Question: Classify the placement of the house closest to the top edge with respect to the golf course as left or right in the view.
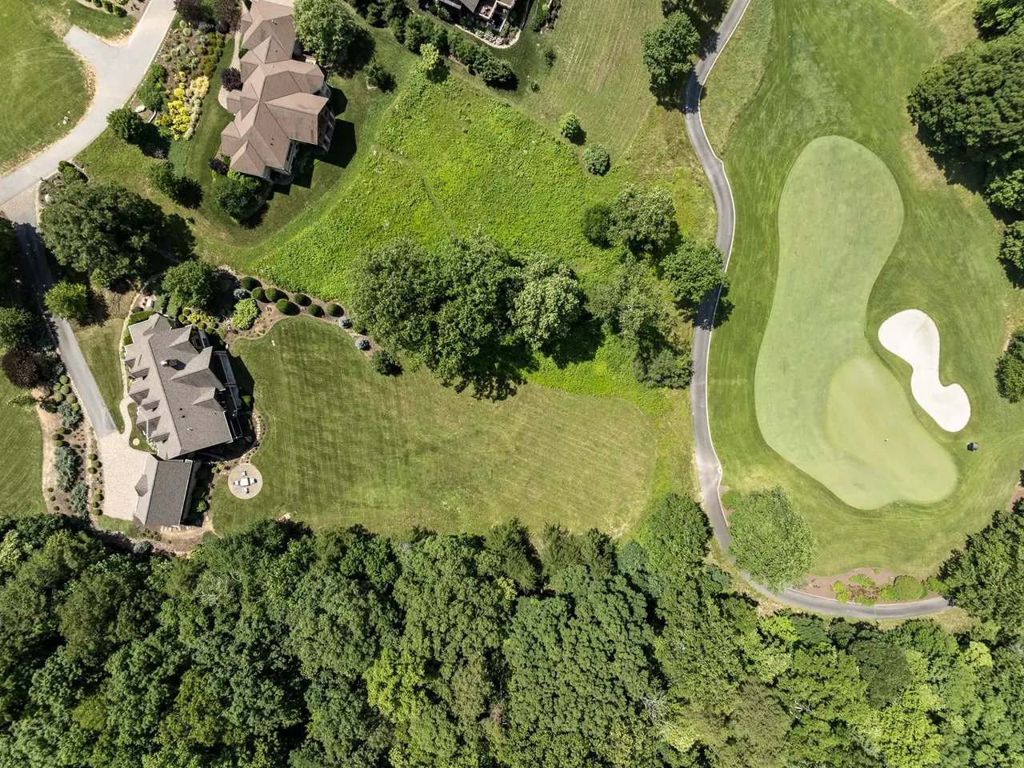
on its left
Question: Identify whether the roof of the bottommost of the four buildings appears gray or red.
gray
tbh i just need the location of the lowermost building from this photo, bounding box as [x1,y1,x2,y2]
[133,454,197,528]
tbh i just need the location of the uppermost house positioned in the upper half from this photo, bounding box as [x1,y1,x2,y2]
[439,0,516,32]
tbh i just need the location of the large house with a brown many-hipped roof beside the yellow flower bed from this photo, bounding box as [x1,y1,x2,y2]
[221,0,334,187]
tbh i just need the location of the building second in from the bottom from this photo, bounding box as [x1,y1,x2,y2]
[124,314,245,459]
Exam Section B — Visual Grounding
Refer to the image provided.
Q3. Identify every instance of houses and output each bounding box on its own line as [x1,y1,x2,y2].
[124,314,245,459]
[439,0,516,32]
[221,0,334,187]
